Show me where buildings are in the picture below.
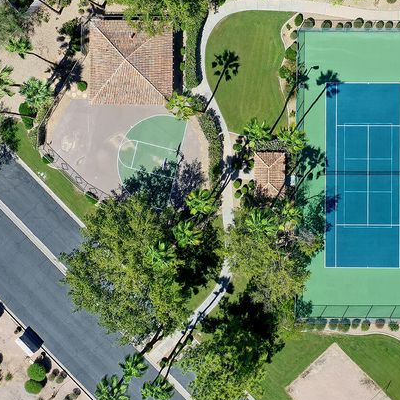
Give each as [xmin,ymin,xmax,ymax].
[253,151,286,196]
[89,19,174,106]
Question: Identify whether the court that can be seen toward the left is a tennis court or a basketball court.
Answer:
basketball court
